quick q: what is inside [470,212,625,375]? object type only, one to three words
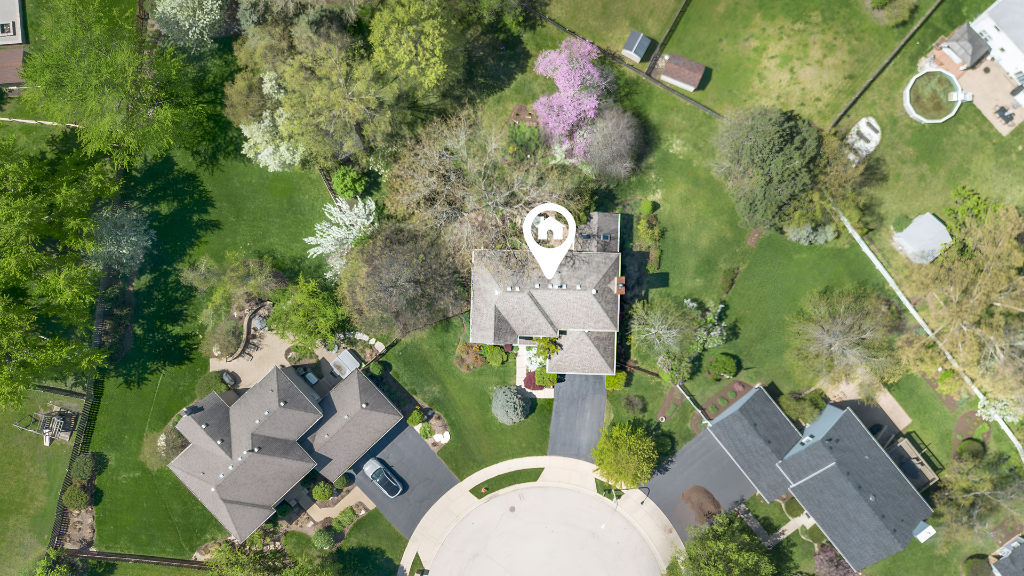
house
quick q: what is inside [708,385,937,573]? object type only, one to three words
house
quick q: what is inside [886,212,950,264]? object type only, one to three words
building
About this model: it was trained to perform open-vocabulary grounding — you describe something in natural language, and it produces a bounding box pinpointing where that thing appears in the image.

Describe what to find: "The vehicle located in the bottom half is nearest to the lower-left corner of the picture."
[364,455,402,501]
